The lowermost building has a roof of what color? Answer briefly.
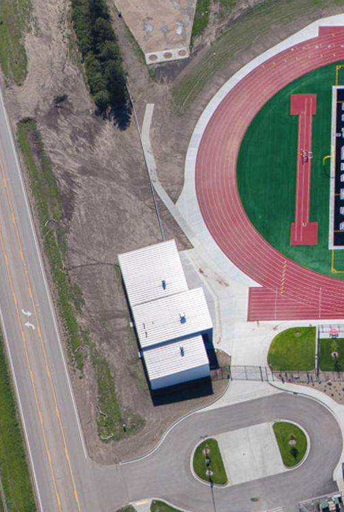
white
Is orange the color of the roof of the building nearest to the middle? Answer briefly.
No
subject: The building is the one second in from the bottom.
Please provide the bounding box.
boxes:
[133,288,214,359]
